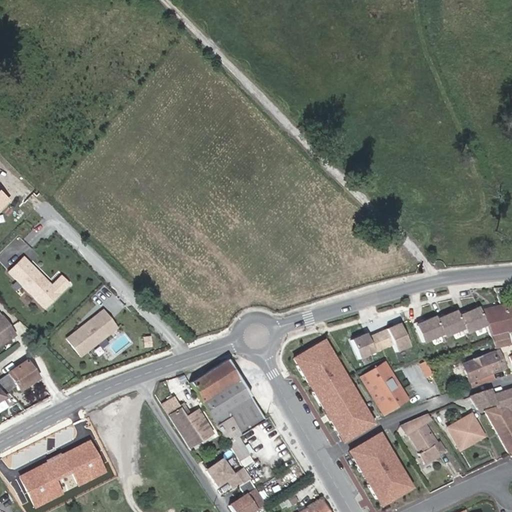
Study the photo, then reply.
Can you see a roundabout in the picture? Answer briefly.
Yes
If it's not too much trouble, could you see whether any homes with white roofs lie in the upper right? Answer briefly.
No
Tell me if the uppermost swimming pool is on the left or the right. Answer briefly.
left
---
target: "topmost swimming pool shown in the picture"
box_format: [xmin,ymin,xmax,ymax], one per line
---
[104,330,133,361]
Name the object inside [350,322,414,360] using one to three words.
house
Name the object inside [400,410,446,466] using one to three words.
house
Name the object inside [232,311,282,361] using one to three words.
roundabout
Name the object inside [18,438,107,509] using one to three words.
building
